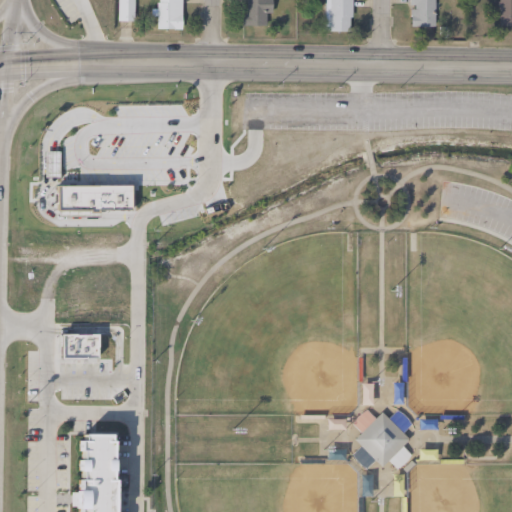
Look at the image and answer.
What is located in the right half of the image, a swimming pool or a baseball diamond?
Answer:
baseball diamond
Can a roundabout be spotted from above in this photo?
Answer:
No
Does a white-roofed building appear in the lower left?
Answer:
Yes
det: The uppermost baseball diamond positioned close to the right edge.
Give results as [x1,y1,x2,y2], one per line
[407,233,512,414]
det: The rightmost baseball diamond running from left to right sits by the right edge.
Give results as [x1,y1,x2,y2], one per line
[409,464,512,512]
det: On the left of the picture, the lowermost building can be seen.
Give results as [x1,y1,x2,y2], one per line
[70,432,122,512]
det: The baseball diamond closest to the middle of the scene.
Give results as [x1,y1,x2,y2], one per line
[178,233,359,414]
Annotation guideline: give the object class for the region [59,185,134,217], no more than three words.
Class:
building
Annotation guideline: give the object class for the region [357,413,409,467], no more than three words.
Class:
building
